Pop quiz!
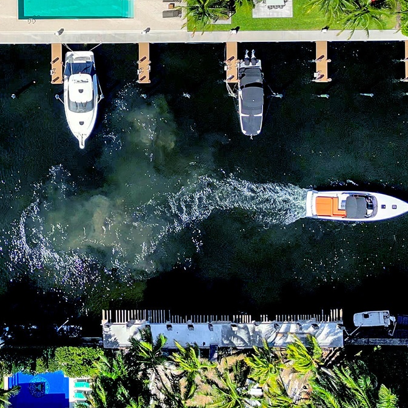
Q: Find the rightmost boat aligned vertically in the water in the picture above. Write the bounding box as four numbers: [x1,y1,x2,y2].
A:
[238,48,265,139]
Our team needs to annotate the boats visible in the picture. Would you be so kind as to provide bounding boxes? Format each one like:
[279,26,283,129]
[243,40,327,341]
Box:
[64,51,100,149]
[238,48,265,139]
[303,191,408,220]
[352,310,400,327]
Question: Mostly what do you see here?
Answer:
water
